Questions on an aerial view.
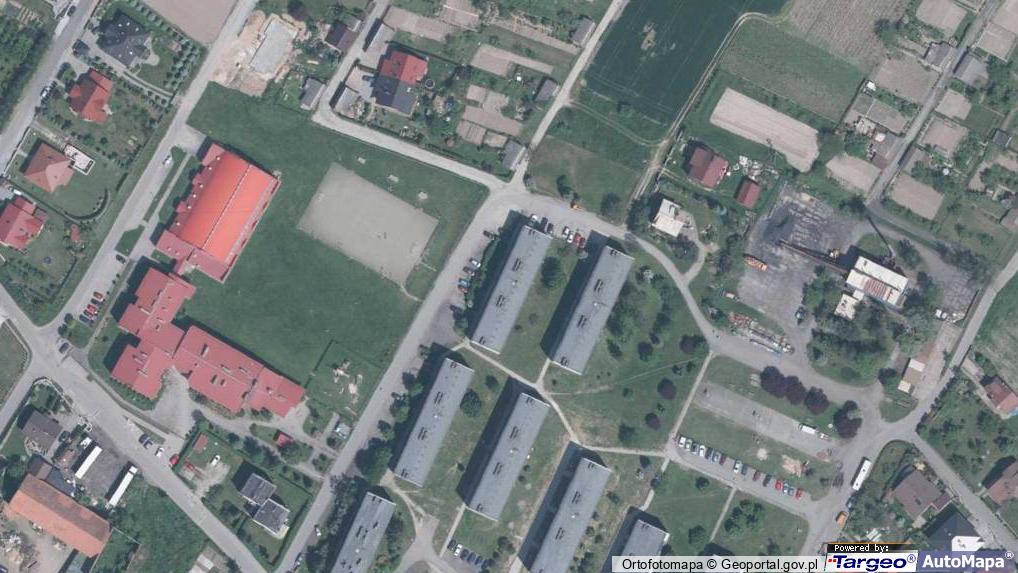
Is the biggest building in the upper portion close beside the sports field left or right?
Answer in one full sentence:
It is on the left.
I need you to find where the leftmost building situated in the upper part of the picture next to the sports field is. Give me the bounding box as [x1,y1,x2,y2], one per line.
[155,143,281,284]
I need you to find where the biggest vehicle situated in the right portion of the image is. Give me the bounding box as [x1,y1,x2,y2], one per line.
[853,459,871,489]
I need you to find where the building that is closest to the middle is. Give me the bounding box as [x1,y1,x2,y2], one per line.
[471,225,553,356]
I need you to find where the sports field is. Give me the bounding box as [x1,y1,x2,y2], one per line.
[298,163,439,286]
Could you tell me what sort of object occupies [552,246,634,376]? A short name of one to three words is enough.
building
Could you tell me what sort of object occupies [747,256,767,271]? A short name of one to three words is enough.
vehicle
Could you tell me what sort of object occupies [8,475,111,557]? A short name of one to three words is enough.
barn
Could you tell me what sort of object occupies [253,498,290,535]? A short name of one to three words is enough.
house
